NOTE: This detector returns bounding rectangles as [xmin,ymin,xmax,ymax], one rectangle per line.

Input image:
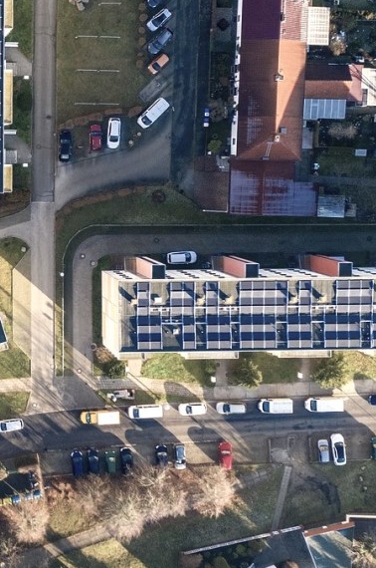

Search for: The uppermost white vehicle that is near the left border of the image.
[0,418,24,434]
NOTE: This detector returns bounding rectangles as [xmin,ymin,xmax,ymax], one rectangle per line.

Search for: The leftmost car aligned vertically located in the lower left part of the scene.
[70,449,84,477]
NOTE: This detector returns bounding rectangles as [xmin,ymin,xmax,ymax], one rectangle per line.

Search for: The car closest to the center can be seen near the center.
[165,250,196,265]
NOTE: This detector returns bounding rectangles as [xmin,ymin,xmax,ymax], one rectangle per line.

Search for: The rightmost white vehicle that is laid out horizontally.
[304,396,346,415]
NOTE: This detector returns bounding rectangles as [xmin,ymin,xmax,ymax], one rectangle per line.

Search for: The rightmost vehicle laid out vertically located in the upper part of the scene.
[107,117,122,149]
